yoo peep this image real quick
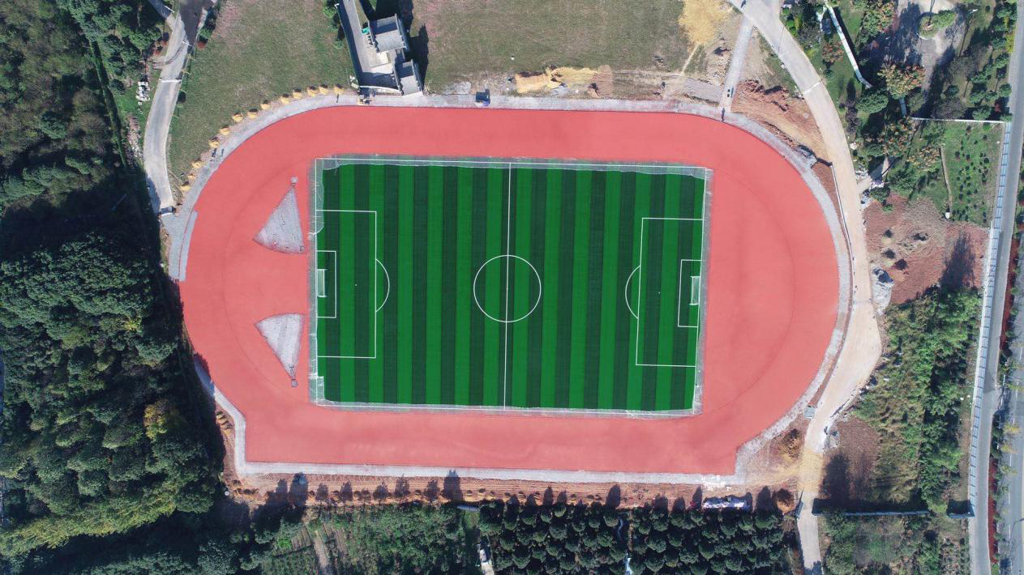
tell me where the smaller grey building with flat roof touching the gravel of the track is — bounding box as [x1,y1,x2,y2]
[394,58,423,99]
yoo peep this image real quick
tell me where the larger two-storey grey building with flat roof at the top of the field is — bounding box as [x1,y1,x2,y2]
[370,12,409,59]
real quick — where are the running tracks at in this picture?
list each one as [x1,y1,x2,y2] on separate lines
[179,105,839,476]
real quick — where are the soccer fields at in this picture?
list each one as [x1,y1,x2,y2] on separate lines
[308,154,713,419]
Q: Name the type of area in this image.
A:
sports ground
